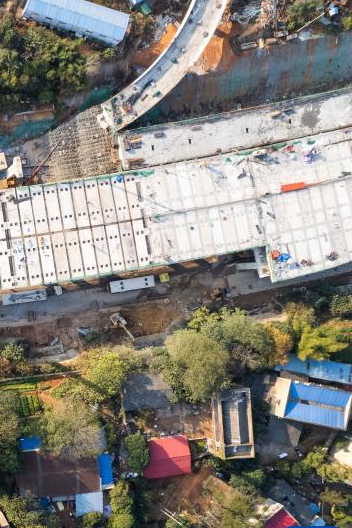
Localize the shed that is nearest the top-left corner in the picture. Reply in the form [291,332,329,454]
[21,0,131,48]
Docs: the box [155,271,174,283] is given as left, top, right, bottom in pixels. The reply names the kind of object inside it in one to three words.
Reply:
vehicle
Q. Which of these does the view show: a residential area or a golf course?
residential area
